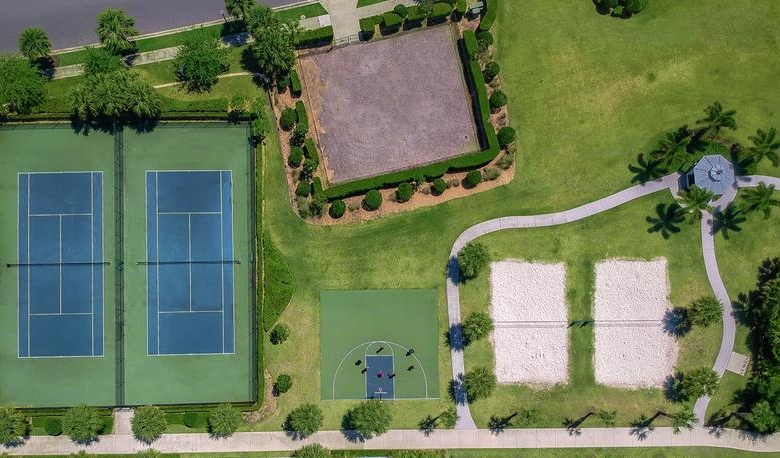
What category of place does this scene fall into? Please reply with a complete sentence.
What you see here is a sports ground.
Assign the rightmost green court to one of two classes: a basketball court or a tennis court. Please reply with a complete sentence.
Looking closely, the rightmost green court is a basketball court.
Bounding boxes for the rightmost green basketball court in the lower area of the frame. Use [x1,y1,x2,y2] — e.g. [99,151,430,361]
[320,289,439,400]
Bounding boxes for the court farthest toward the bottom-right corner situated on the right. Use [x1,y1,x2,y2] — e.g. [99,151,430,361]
[592,257,676,389]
